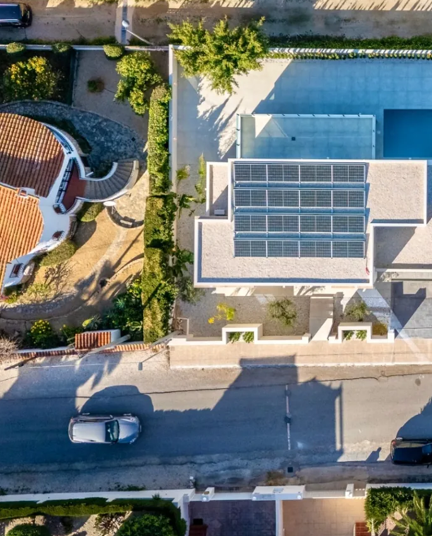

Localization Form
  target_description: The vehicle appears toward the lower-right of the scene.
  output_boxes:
[392,437,432,468]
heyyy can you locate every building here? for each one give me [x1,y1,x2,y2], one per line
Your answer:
[196,113,432,286]
[0,113,150,296]
[75,325,130,350]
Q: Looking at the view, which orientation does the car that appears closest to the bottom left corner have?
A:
from side to side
